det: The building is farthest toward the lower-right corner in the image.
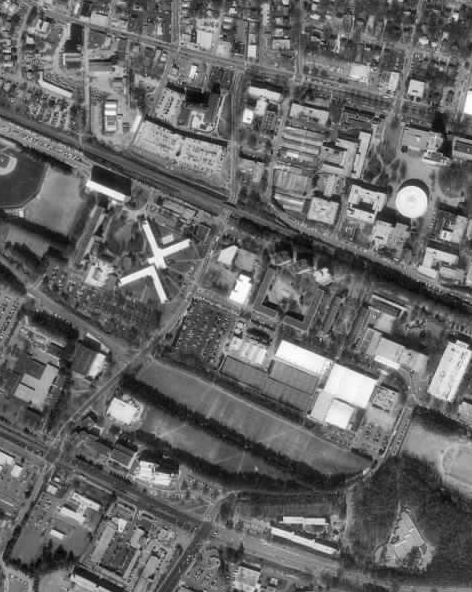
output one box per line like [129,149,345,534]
[389,512,425,559]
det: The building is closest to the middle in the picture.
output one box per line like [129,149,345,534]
[230,274,251,305]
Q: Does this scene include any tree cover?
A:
Yes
